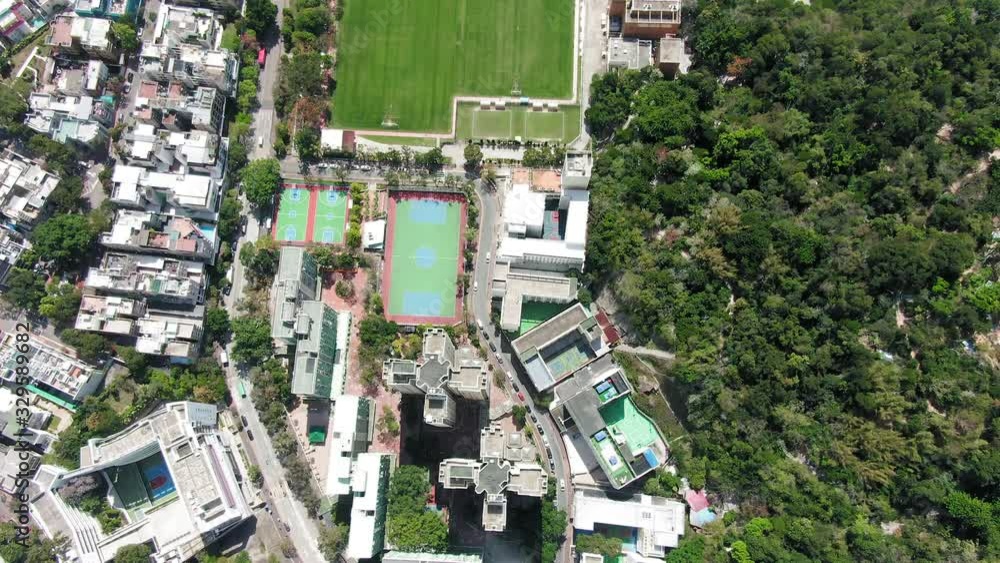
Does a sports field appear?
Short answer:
Yes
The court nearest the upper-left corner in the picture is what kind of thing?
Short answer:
basketball court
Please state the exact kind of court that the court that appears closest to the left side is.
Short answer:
basketball court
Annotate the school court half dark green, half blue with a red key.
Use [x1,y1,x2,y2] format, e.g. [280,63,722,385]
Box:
[106,449,184,524]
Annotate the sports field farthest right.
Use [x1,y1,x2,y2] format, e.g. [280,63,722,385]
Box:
[459,101,578,141]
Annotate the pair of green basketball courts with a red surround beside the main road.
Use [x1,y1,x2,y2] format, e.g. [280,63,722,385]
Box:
[272,184,350,246]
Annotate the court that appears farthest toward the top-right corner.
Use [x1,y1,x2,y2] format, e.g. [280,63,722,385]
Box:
[540,196,566,242]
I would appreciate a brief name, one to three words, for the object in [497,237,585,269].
building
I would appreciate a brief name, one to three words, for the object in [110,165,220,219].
house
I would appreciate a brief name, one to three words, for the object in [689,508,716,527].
shed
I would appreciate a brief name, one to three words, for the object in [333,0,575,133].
sports field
